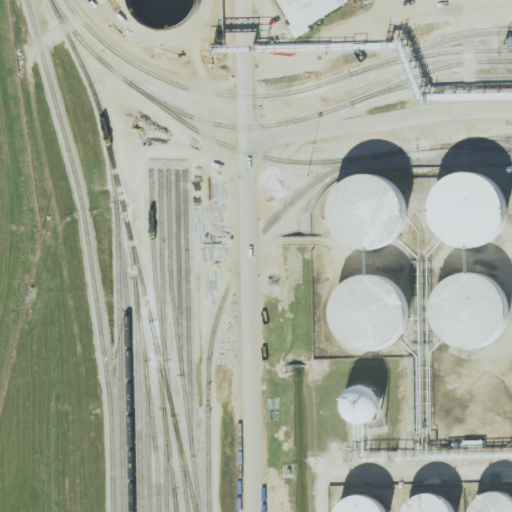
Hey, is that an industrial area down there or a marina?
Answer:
industrial area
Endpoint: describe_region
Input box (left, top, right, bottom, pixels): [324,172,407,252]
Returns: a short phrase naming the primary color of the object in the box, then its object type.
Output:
white storage tank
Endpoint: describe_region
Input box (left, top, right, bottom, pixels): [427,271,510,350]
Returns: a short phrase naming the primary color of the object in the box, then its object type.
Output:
white storage tank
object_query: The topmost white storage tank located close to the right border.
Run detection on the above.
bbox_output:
[426,170,508,250]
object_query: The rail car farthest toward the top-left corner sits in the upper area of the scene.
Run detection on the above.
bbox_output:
[99,111,112,147]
